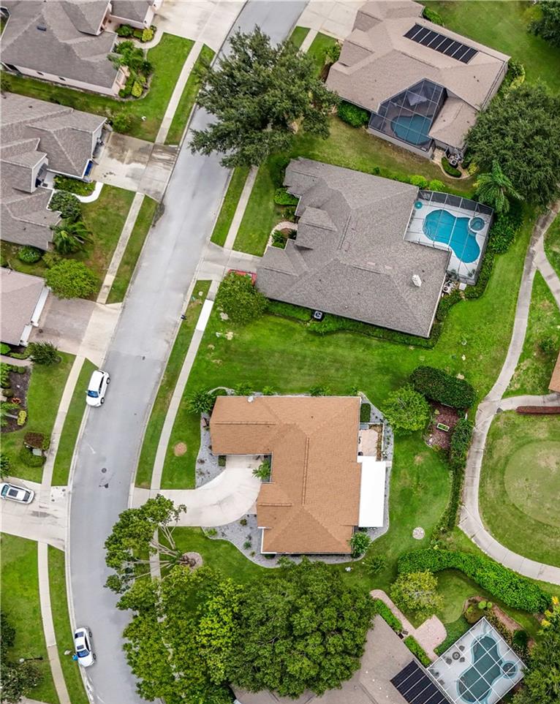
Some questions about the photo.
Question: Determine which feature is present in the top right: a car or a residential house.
residential house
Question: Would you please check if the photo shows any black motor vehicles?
No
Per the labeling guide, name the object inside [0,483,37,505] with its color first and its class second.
white car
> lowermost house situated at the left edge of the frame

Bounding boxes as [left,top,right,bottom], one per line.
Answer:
[0,269,55,351]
